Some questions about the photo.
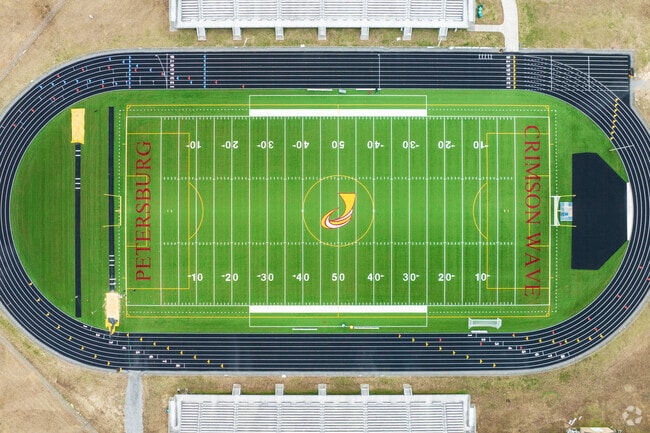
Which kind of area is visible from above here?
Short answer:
sports ground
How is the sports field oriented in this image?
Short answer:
from side to side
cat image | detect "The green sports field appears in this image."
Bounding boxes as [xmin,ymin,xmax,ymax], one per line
[119,95,557,326]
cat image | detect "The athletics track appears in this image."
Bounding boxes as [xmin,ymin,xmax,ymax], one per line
[0,52,650,370]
